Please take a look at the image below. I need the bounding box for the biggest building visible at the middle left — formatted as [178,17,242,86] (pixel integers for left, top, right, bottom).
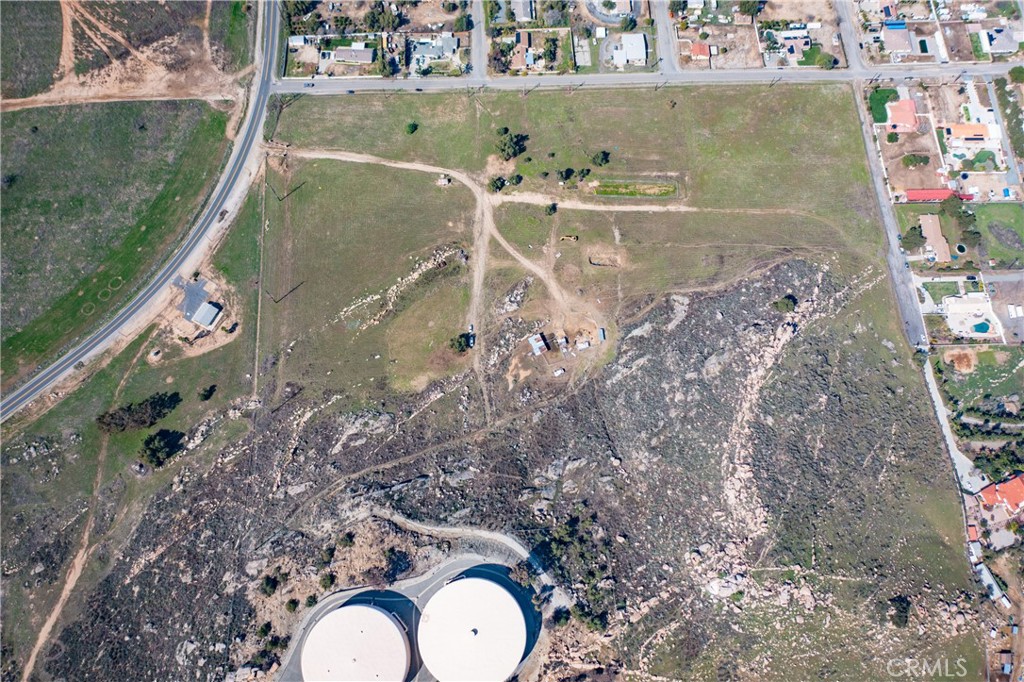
[192,301,222,328]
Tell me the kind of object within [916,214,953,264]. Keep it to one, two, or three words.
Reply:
house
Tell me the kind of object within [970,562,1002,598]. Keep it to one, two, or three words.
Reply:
barn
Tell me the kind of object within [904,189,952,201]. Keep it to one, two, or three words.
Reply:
building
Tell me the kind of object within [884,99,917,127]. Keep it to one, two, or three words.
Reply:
house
